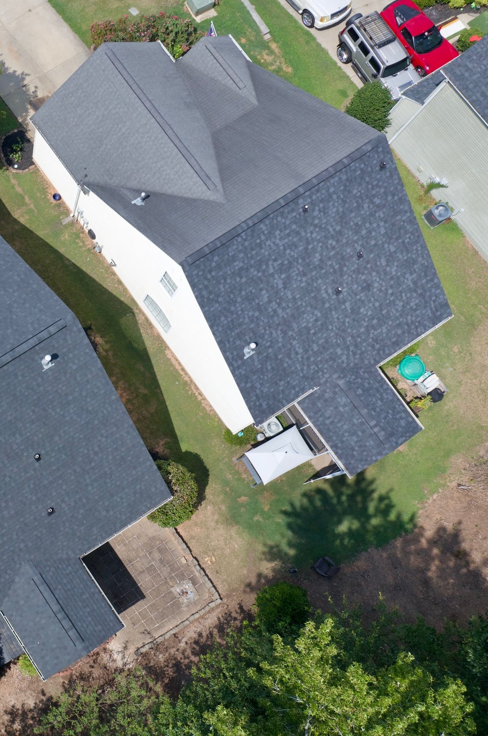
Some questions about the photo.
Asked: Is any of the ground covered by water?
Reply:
No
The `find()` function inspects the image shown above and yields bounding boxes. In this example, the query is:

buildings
[0,236,181,685]
[26,33,458,479]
